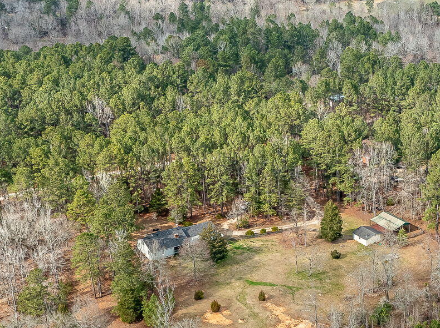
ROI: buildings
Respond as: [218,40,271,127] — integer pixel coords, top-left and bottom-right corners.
[369,209,412,239]
[353,225,383,246]
[137,222,217,260]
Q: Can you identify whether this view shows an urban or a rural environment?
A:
rural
